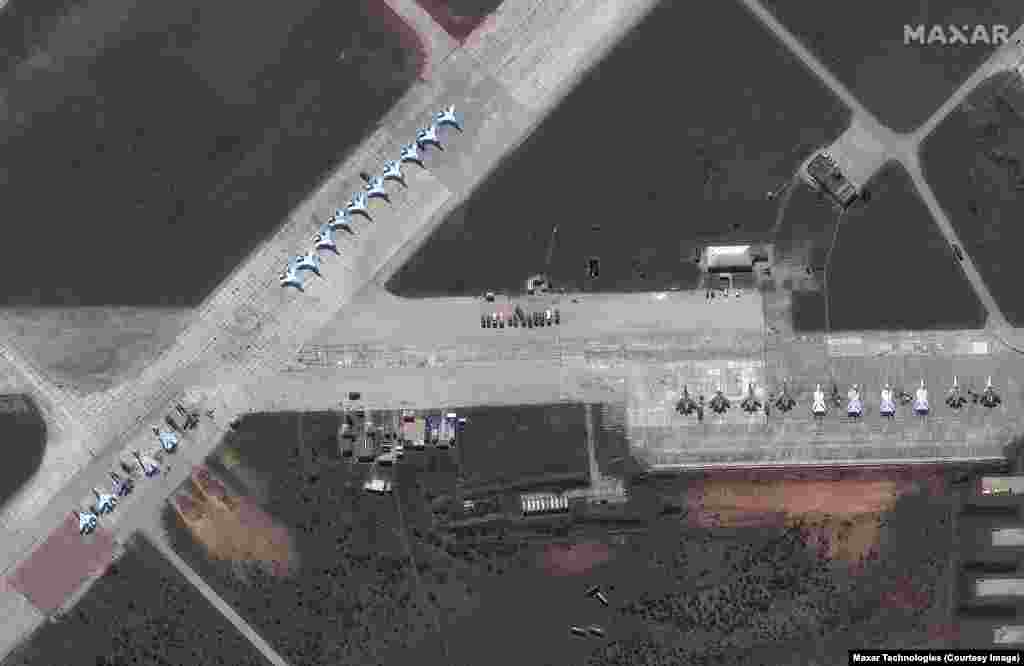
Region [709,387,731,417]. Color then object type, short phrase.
gray airplane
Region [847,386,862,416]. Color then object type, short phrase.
white airplane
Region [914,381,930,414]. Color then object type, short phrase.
white airplane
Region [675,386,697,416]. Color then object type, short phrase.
gray airplane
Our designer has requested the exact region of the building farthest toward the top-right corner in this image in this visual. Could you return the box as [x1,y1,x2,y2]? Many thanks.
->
[807,155,858,207]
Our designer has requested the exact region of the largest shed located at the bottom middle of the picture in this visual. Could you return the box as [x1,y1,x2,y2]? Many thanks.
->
[521,495,568,512]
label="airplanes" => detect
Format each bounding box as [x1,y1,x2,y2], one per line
[396,142,425,166]
[326,205,354,231]
[137,453,161,480]
[343,191,371,215]
[378,160,407,183]
[914,381,930,414]
[847,386,862,416]
[434,105,462,128]
[775,386,797,416]
[709,387,731,417]
[313,226,340,251]
[811,385,826,415]
[108,472,131,499]
[879,382,895,415]
[416,125,444,147]
[156,425,179,452]
[77,509,101,535]
[946,379,967,409]
[295,249,323,274]
[979,377,1001,408]
[675,386,697,416]
[361,176,389,198]
[740,385,762,416]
